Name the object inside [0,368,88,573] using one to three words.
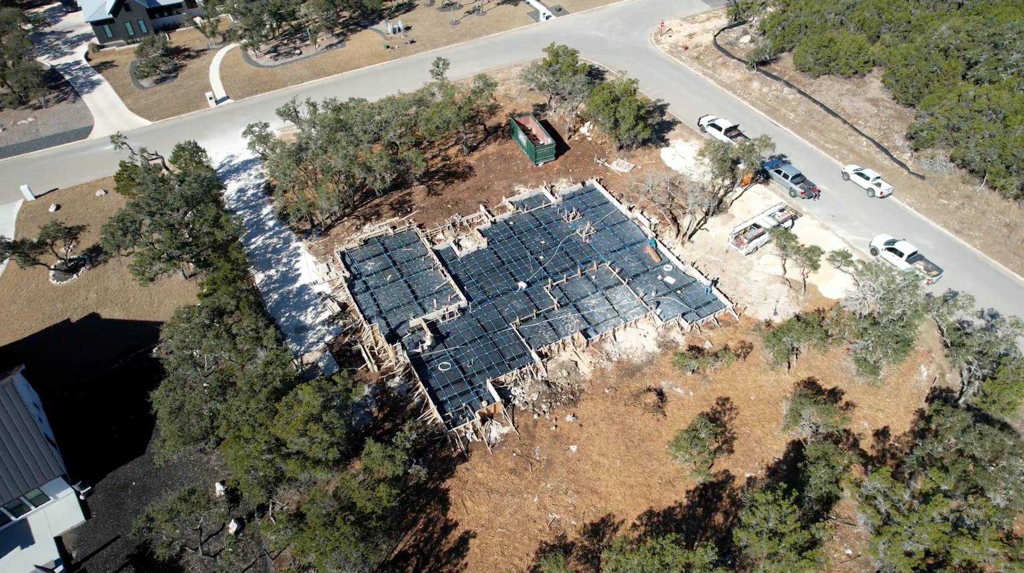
house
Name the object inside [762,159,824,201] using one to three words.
truck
